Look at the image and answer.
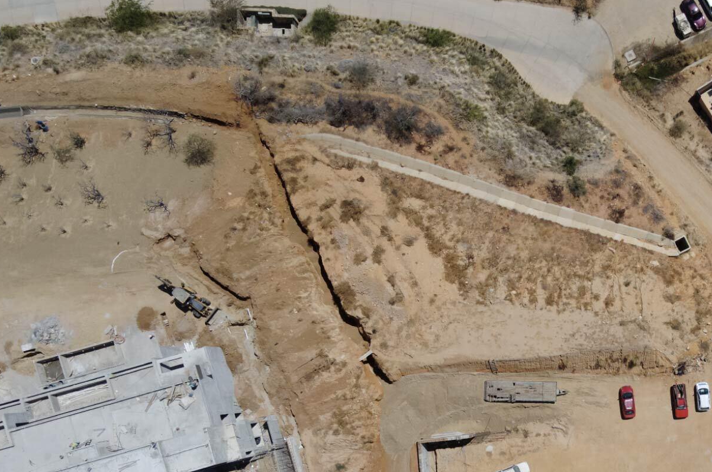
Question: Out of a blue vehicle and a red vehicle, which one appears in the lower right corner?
red vehicle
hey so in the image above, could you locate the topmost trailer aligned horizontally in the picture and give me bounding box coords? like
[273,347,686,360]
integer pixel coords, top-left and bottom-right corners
[481,380,569,404]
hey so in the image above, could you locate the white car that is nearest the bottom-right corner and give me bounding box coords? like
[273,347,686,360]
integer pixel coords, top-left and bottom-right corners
[695,383,711,413]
